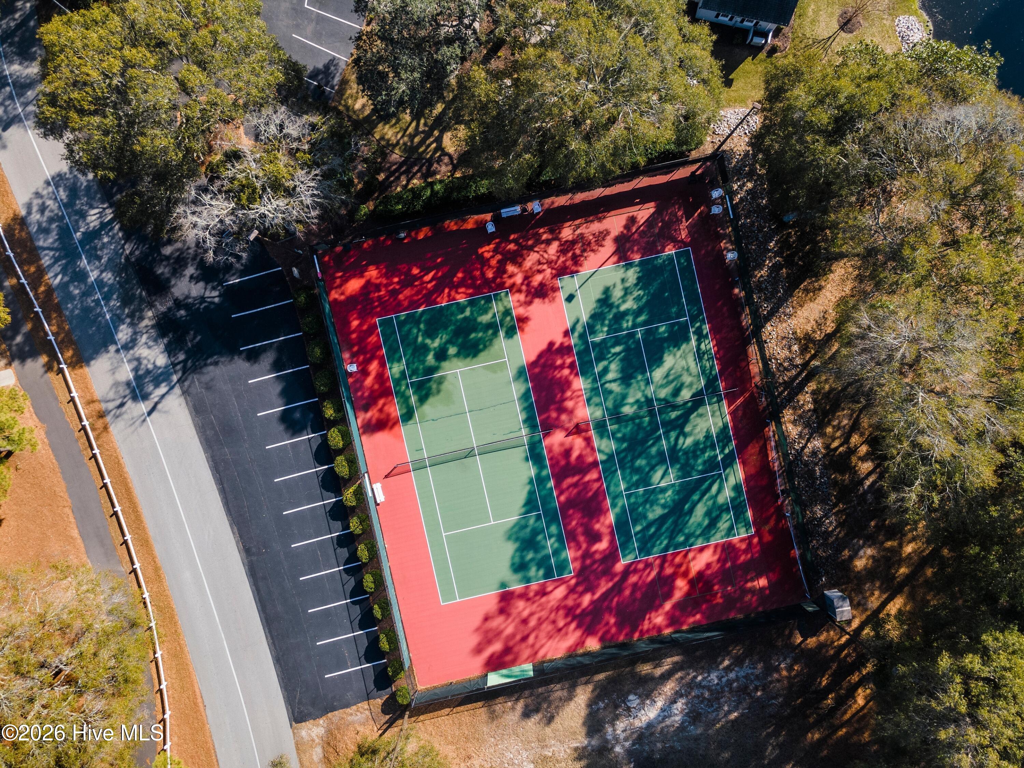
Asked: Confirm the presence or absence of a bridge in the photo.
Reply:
No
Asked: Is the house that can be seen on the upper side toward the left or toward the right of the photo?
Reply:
right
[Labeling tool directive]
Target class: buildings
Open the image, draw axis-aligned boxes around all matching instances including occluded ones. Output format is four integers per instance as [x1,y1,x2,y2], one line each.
[821,588,850,620]
[697,0,801,54]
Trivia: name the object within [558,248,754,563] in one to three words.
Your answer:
tennis court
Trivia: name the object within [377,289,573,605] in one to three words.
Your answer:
tennis court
